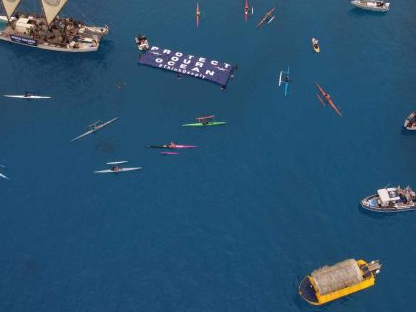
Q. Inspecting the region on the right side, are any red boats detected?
Yes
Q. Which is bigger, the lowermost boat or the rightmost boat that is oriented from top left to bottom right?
the lowermost boat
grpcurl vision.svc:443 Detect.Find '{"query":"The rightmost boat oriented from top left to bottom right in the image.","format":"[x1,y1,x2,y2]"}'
[315,81,342,116]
